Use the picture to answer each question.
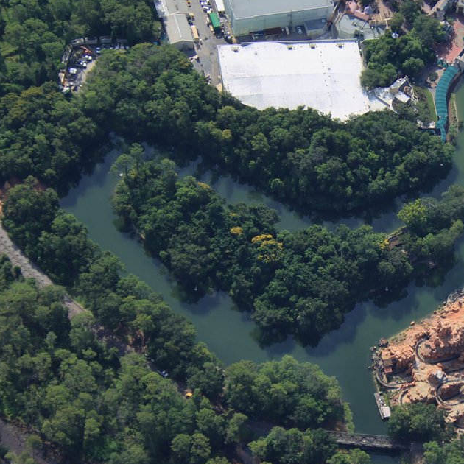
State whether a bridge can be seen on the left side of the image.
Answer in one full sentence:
No, the scene shows no bridge on the left side of the image.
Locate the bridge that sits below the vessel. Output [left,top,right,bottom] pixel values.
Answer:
[355,431,412,455]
